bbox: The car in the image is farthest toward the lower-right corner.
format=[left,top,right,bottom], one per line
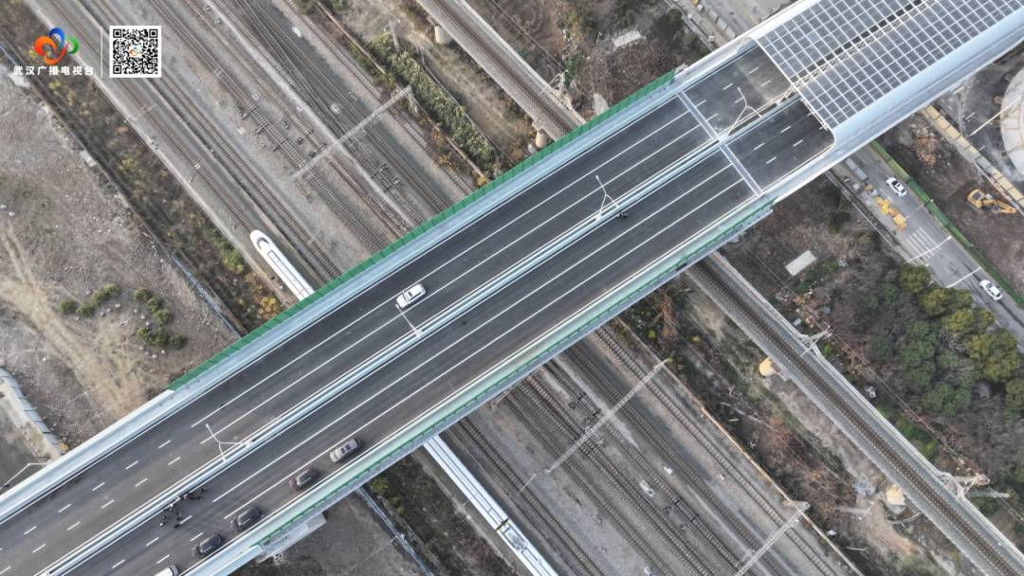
[979,278,1003,300]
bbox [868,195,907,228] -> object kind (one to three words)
work vehicle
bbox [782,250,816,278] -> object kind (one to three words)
shed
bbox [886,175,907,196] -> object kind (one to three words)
car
